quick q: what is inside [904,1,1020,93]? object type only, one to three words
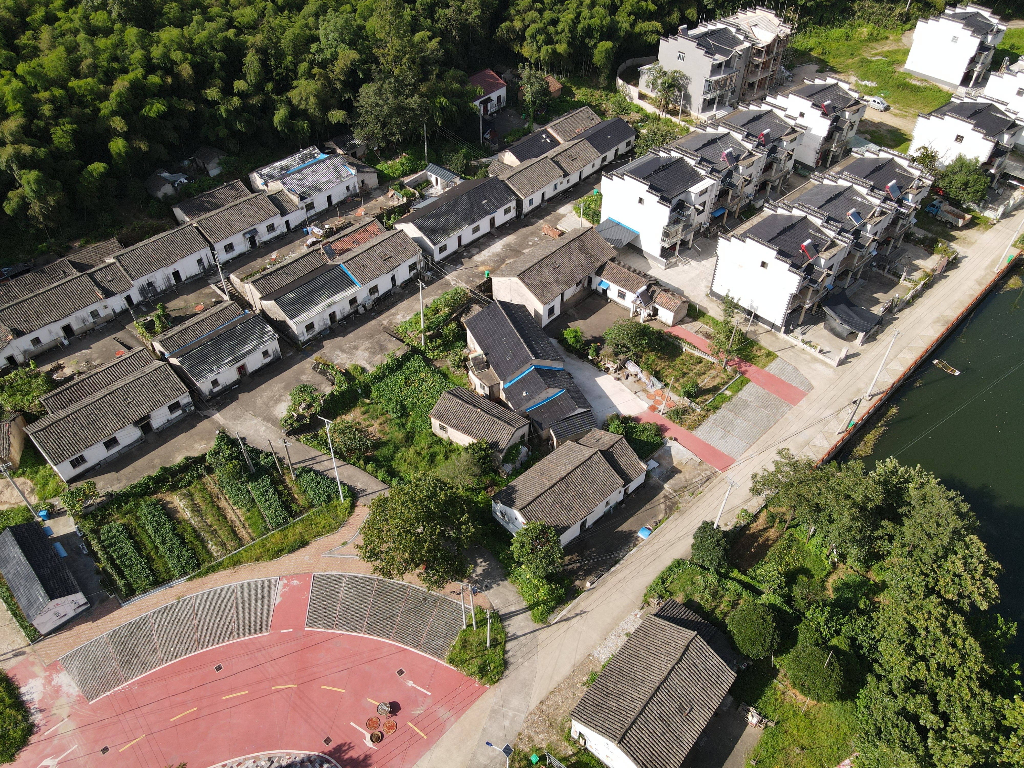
house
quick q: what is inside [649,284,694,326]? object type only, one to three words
shed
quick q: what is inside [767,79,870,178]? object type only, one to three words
house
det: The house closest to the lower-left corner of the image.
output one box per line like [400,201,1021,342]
[0,522,89,638]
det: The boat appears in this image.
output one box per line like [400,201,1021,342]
[934,359,960,373]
